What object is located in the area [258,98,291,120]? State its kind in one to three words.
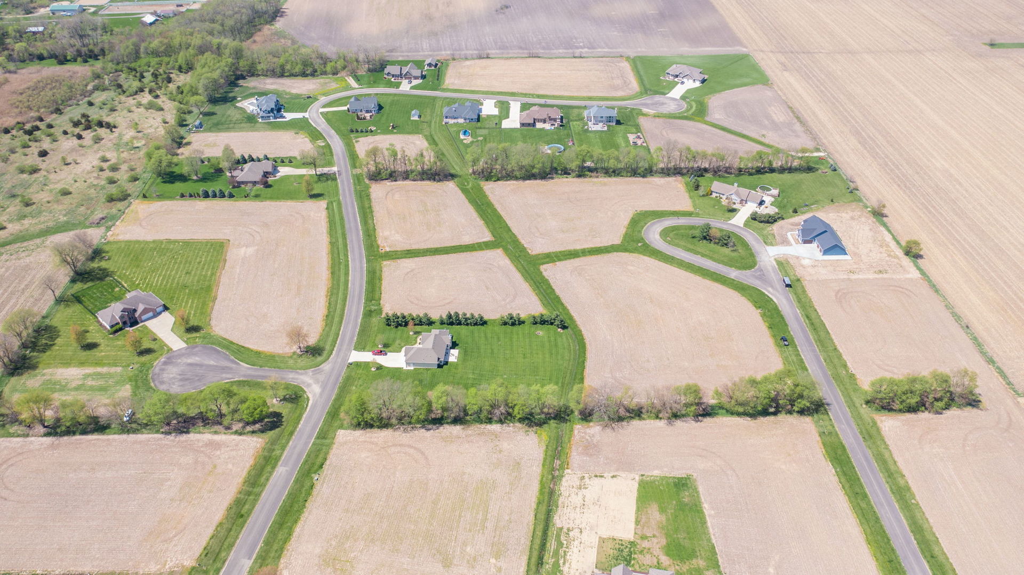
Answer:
house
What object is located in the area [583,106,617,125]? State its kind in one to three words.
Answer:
house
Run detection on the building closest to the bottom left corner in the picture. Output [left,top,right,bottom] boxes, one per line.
[94,289,167,330]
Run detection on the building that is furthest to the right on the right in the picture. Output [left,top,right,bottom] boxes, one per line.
[789,214,851,255]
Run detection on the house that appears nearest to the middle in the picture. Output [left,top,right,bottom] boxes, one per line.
[404,331,453,368]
